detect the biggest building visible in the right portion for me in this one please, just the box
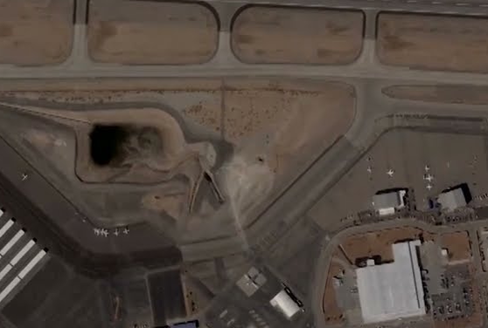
[357,241,427,325]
